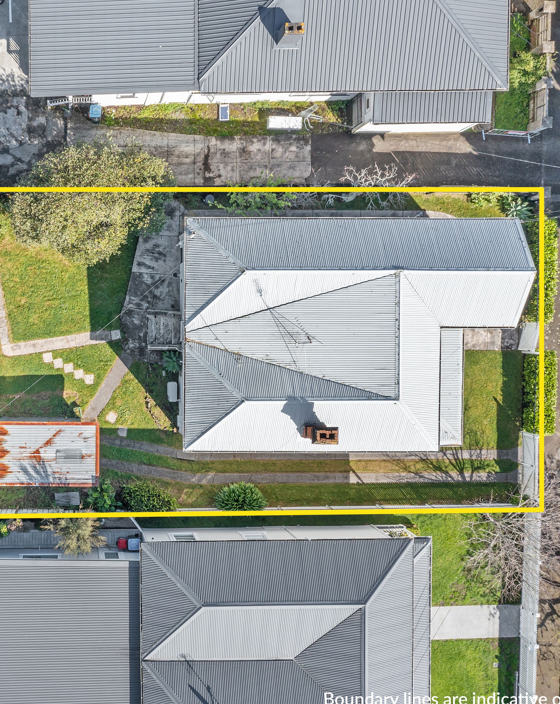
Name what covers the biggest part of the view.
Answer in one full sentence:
The scene is dominated by buildings.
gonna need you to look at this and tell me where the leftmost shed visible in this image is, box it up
[0,419,99,487]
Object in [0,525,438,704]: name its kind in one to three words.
house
